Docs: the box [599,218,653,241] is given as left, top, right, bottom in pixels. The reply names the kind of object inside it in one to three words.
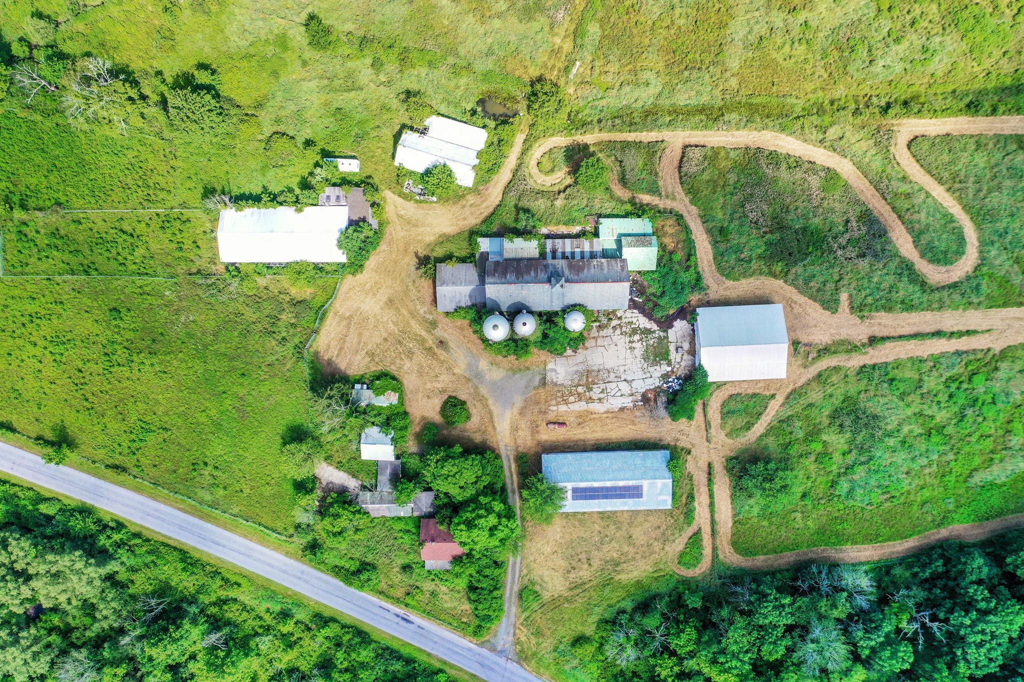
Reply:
shed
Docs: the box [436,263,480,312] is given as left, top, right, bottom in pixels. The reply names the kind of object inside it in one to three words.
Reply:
barn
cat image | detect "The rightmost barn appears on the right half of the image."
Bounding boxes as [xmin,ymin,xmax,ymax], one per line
[694,304,788,382]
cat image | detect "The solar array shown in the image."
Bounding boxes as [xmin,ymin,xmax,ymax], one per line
[572,485,643,501]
